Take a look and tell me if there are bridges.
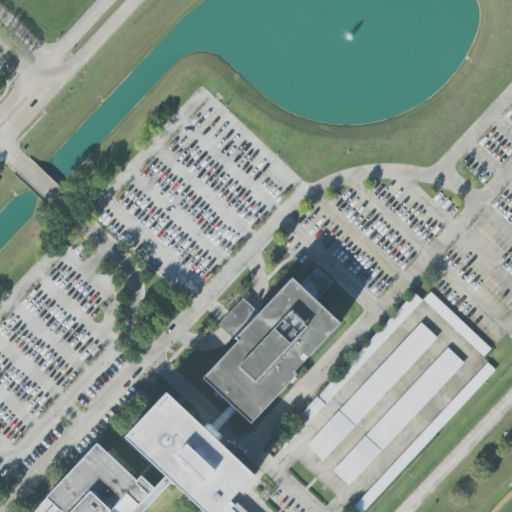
Yes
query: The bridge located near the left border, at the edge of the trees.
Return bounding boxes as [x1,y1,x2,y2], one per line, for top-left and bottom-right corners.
[4,150,60,202]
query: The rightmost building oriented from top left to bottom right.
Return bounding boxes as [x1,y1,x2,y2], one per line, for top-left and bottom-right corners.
[424,292,492,356]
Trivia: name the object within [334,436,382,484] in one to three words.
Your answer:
building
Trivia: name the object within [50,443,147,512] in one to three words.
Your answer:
building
